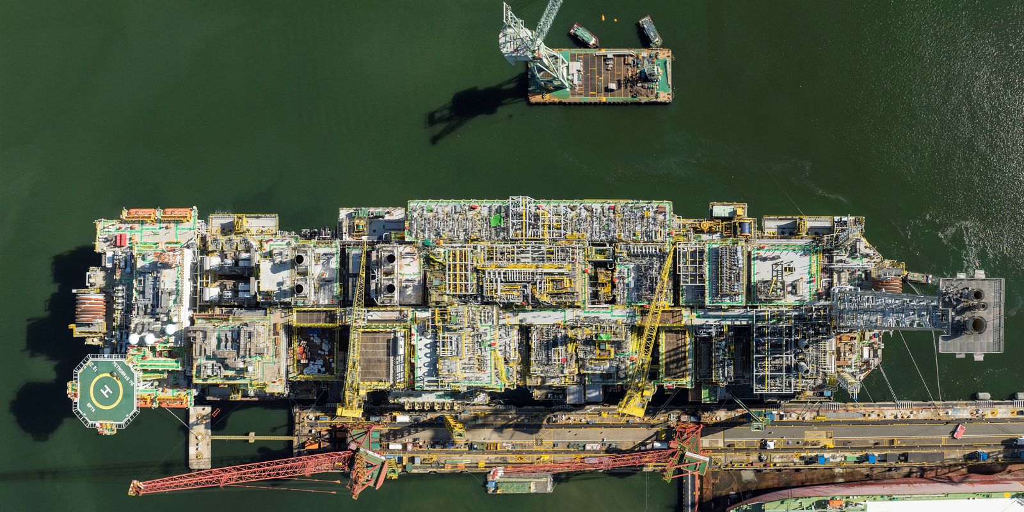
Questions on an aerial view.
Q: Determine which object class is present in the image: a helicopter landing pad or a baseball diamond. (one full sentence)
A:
The one in the frame is a helicopter landing pad.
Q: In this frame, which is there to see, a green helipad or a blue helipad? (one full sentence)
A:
Visible in the photo is a green helipad.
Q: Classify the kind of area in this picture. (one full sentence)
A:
This image shows a port.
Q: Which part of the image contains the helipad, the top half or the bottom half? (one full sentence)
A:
It is in the bottom half that the helipad appears.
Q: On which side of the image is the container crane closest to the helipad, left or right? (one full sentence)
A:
The container crane closest to the helipad sits on the left side.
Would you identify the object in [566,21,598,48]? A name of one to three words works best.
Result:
boat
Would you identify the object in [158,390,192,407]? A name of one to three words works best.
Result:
boat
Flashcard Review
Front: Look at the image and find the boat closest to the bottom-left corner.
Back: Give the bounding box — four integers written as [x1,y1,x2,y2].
[137,390,159,407]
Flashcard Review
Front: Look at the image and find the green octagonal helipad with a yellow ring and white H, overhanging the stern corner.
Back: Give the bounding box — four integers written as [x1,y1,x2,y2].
[67,354,156,434]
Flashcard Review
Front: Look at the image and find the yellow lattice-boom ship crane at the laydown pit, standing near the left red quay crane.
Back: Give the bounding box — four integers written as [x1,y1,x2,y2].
[339,239,371,415]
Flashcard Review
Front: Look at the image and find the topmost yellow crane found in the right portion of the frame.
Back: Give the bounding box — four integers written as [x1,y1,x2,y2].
[622,243,676,420]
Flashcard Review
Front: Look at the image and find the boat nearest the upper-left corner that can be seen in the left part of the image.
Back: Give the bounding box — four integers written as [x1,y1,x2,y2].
[124,208,156,225]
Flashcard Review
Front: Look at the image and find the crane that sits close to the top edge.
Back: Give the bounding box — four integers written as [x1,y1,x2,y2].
[500,0,570,97]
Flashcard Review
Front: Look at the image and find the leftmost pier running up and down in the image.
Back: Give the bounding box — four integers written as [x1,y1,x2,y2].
[188,406,214,470]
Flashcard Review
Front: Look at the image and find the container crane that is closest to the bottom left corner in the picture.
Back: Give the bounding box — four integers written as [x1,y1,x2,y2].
[127,426,390,500]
